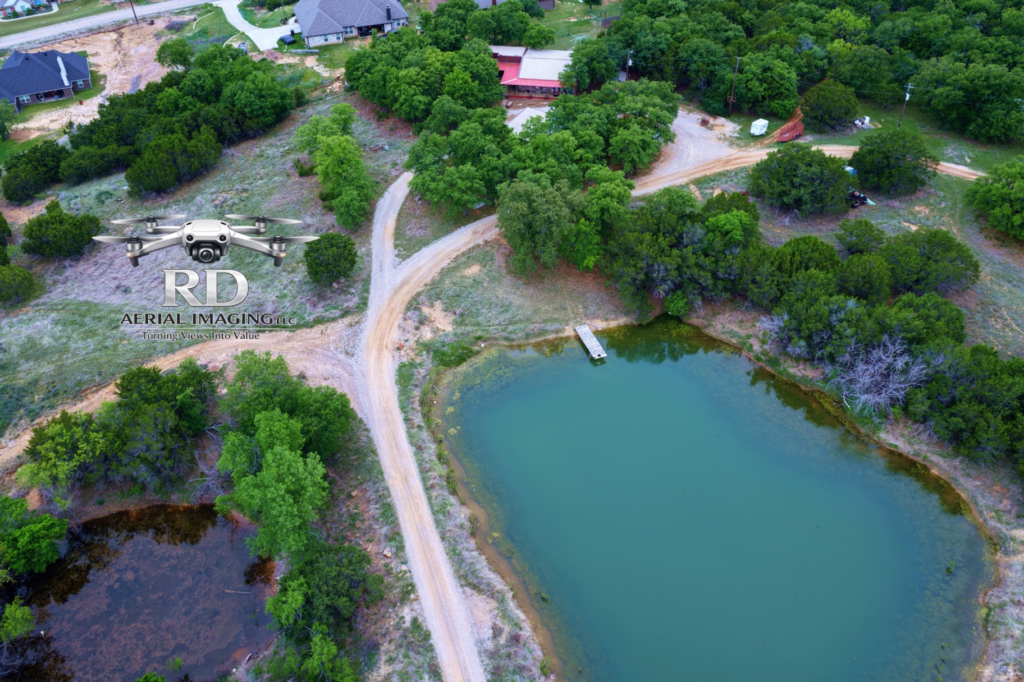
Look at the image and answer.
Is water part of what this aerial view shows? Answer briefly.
Yes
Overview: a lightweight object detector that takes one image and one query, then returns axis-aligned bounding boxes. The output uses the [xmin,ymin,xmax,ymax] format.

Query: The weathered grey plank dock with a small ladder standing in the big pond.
[575,325,607,361]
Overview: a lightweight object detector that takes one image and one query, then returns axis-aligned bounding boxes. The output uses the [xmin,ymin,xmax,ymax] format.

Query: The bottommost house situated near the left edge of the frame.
[0,38,91,105]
